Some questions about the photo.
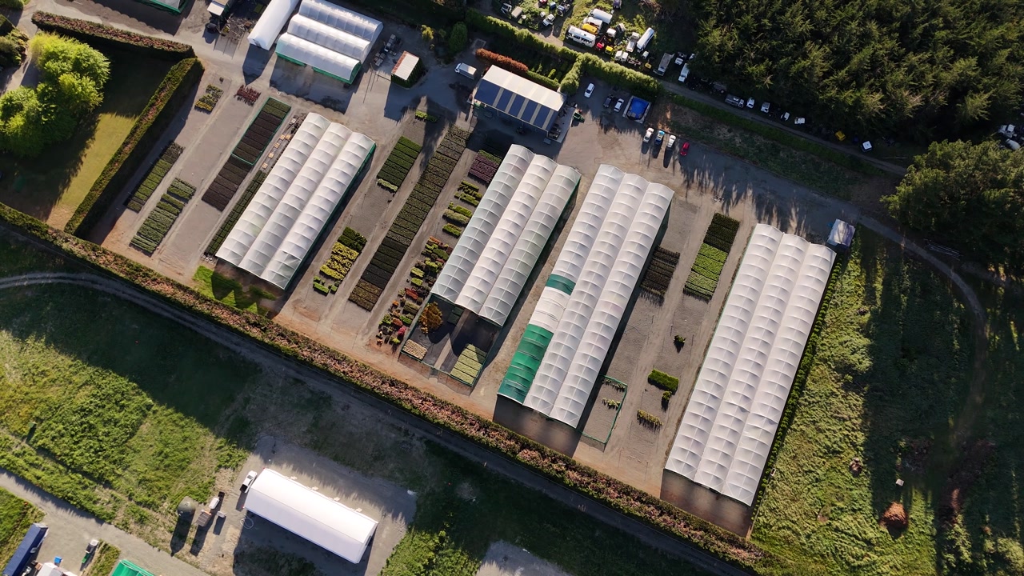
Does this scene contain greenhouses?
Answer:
Yes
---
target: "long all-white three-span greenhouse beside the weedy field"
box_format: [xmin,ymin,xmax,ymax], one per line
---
[663,223,836,507]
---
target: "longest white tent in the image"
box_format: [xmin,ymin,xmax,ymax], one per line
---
[243,468,379,564]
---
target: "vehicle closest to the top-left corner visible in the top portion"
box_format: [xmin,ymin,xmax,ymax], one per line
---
[456,63,477,79]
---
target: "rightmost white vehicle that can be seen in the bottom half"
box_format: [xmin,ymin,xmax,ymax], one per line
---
[240,469,258,491]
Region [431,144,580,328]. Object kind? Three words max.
greenhouse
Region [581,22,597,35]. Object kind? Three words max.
vehicle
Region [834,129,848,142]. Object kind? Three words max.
vehicle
